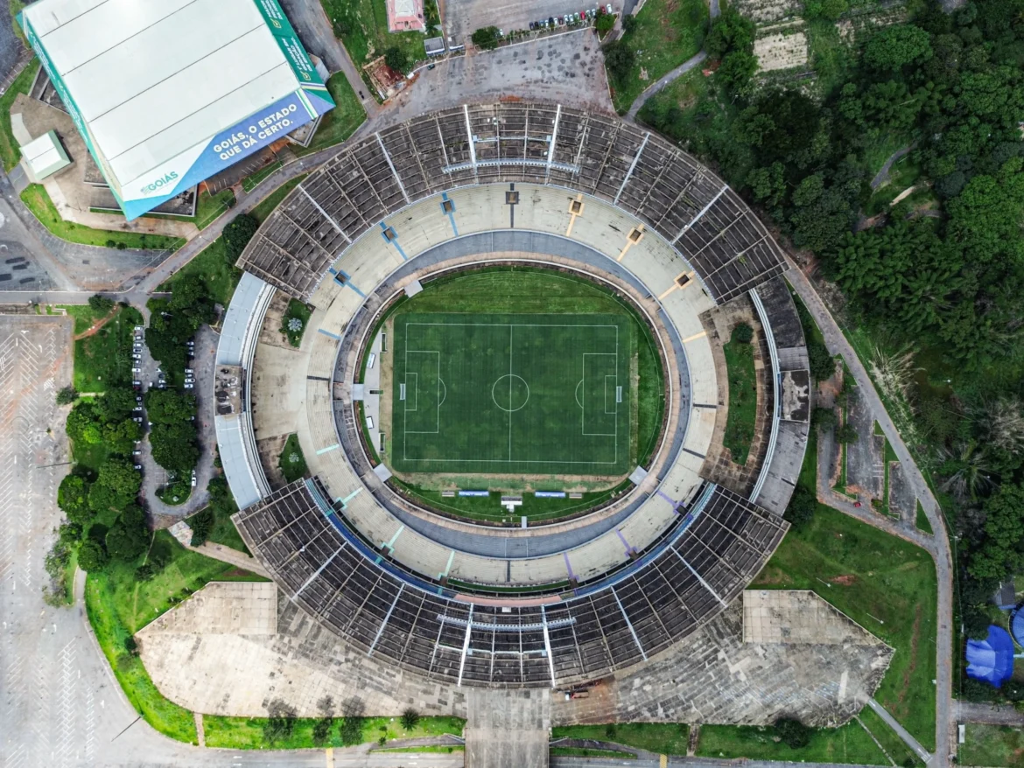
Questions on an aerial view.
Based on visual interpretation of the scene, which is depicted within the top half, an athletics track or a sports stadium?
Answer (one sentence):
The one visible within the top half is a sports stadium.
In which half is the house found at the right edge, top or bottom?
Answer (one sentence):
The house found at the right edge is in the bottom half of the image.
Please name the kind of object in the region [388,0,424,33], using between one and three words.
house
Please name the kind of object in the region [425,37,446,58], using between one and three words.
building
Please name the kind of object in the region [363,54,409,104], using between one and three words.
building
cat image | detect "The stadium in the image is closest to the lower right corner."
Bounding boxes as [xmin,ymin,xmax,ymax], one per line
[214,101,811,692]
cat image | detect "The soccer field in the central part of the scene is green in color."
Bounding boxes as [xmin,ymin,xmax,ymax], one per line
[355,261,671,526]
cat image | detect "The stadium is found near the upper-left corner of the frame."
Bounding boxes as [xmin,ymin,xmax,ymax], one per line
[16,0,336,220]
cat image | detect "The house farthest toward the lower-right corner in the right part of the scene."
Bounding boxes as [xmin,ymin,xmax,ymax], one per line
[991,580,1016,610]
